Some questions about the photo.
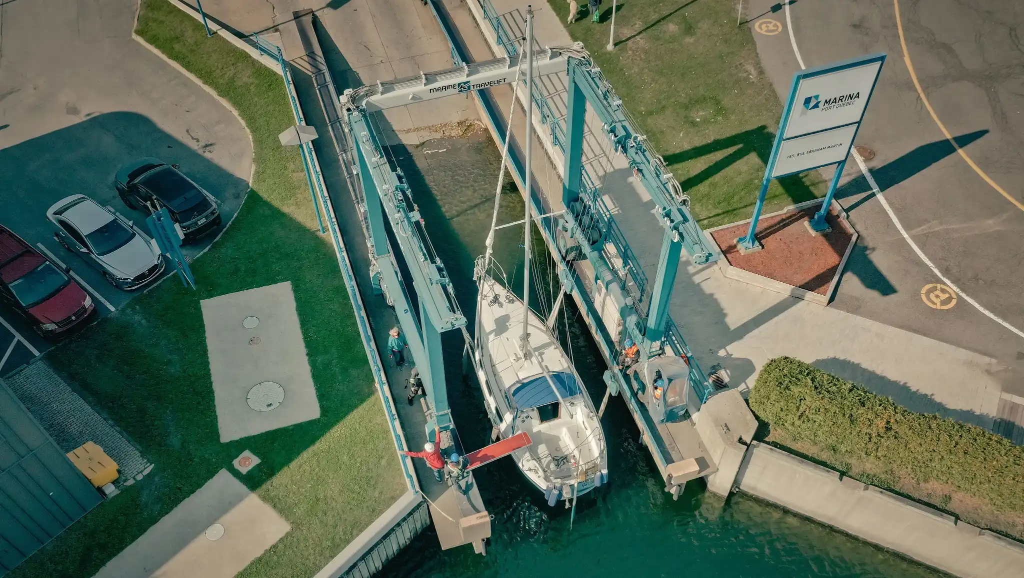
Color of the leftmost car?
black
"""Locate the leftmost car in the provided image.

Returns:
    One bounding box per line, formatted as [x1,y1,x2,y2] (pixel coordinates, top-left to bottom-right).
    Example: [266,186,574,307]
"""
[0,213,103,339]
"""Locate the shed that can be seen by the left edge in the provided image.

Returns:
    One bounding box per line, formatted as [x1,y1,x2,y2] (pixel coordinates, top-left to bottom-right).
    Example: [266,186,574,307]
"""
[0,372,110,578]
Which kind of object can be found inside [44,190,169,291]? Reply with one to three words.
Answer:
car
